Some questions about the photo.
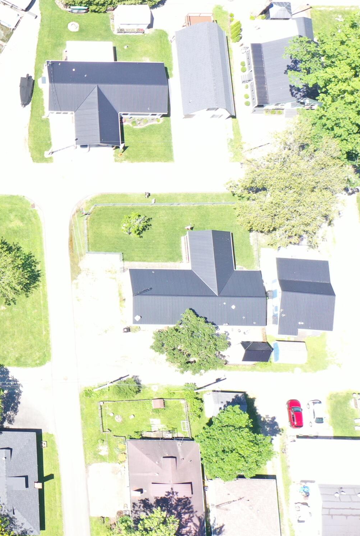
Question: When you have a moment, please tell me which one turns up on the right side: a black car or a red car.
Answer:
red car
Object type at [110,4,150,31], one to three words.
shed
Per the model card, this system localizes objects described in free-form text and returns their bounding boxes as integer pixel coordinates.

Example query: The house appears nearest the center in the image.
[125,230,267,326]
